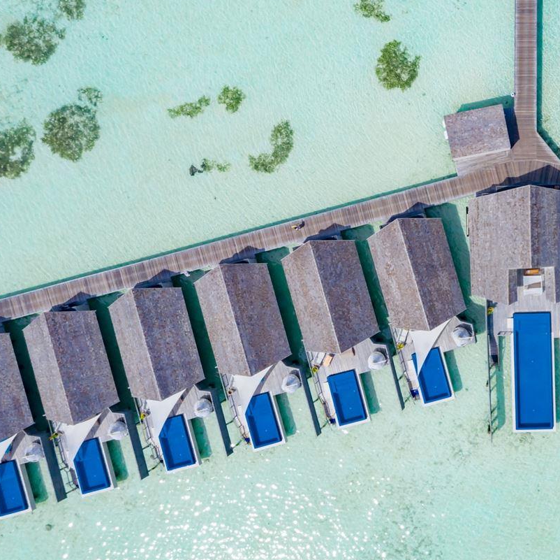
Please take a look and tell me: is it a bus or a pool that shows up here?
pool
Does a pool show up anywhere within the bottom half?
Yes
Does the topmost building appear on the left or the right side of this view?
right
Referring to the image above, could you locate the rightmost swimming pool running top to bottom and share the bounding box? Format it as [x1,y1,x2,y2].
[508,311,556,432]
